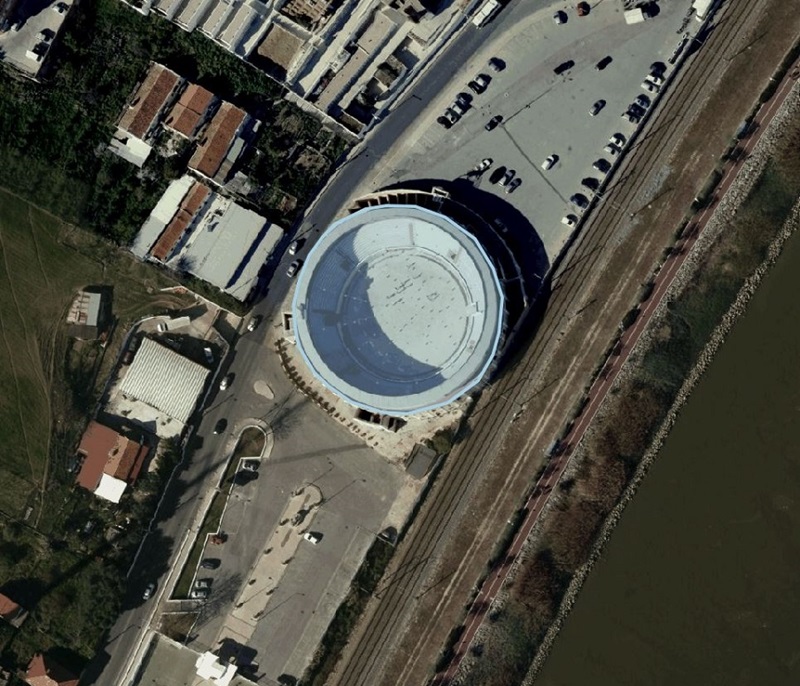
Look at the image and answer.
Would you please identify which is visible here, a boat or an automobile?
automobile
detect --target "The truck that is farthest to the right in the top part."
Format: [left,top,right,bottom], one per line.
[693,0,715,24]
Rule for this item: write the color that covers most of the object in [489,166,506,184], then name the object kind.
black car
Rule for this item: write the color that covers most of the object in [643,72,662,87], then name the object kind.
white car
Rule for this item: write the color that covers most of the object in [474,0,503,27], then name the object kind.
white truck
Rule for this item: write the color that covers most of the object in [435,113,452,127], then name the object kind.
black car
